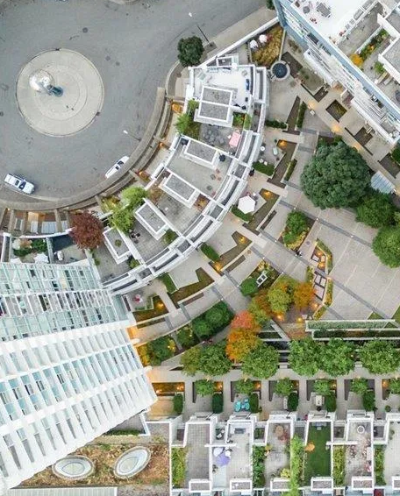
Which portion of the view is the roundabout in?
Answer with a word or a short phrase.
top left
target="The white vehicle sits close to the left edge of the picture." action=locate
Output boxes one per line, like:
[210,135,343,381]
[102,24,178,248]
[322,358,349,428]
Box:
[3,172,36,194]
